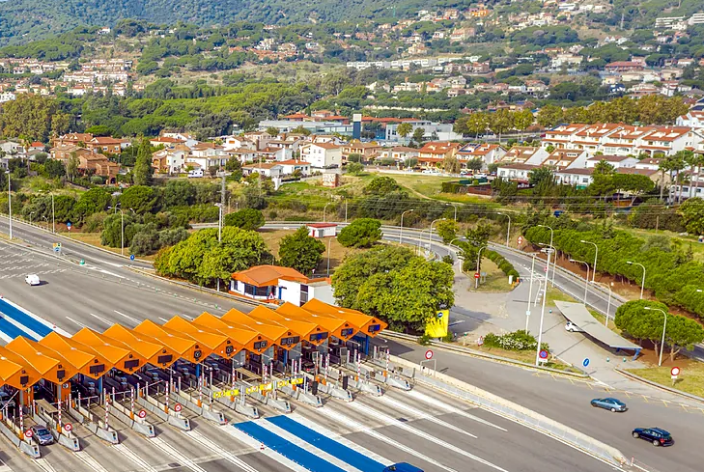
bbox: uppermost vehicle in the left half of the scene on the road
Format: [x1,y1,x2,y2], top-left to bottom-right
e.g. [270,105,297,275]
[24,272,42,284]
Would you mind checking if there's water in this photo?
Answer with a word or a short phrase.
No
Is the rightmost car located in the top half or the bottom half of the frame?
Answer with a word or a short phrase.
bottom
